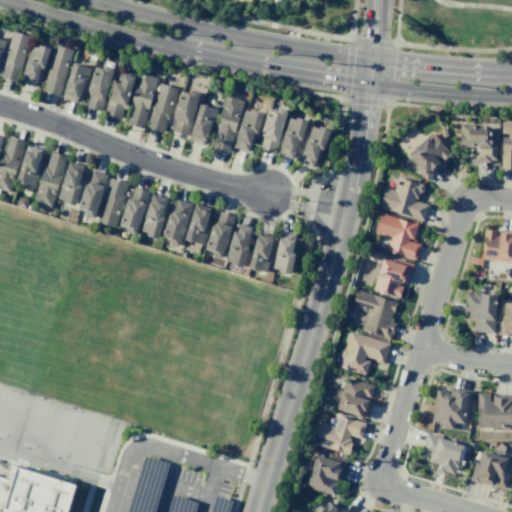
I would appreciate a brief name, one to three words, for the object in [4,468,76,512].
building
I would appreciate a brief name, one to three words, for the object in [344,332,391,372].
house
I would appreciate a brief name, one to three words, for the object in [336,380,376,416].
house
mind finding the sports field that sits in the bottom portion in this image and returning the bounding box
[0,203,296,461]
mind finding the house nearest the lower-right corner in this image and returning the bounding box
[468,450,512,493]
